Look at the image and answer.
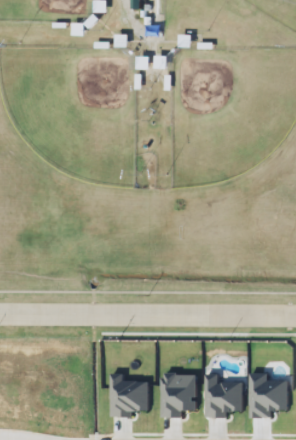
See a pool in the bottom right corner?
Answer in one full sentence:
Yes, the scene does show a pool in the bottom right corner.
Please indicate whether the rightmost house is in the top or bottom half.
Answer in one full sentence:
The bottom half of the photo is where the rightmost house is.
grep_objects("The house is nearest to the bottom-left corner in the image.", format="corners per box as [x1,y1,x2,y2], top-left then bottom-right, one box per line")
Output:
[110,374,150,418]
